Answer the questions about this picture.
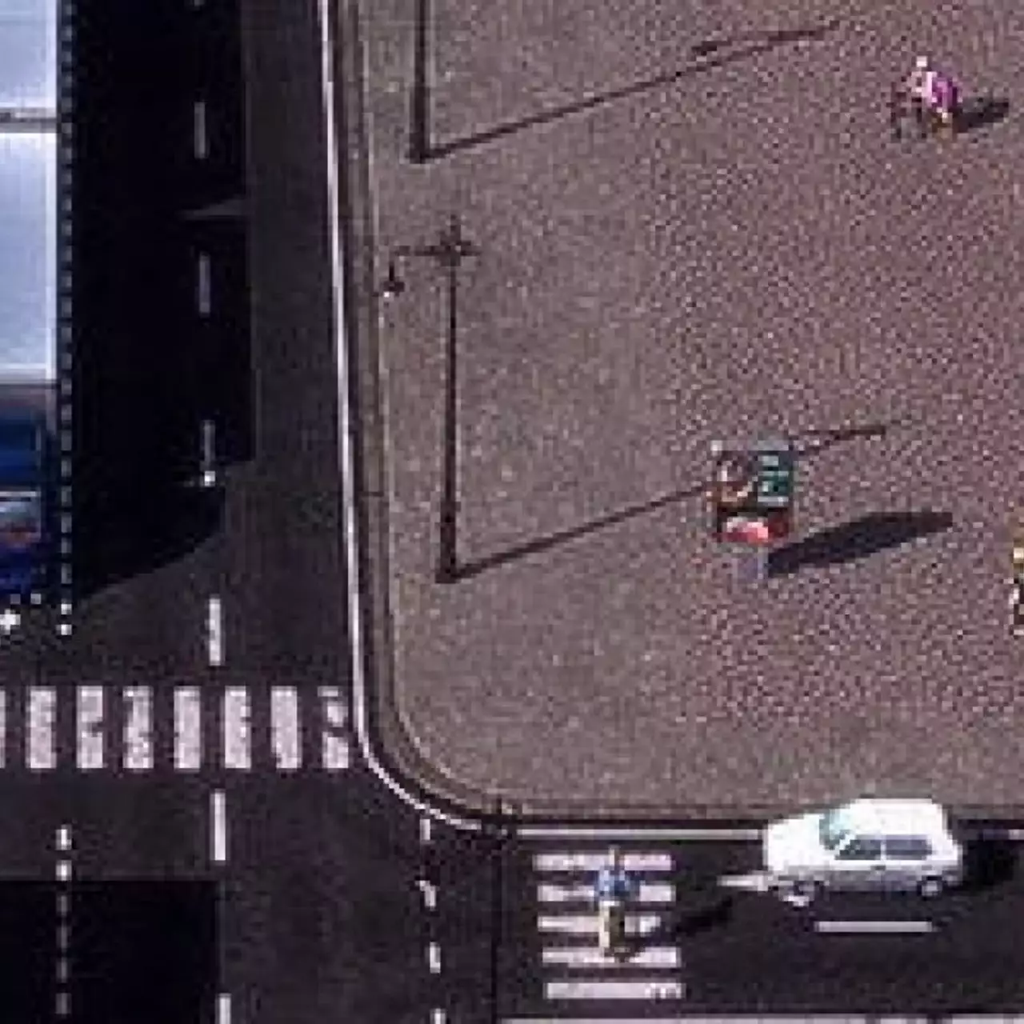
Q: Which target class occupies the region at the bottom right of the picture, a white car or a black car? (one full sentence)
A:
Looking at the bottom right of the picture, you will find a white car.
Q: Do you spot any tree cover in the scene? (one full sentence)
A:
No, there is no tree cover in the image.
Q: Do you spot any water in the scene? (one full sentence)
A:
No, there's no water in this view.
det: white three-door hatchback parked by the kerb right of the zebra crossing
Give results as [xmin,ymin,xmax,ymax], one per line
[761,797,966,901]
